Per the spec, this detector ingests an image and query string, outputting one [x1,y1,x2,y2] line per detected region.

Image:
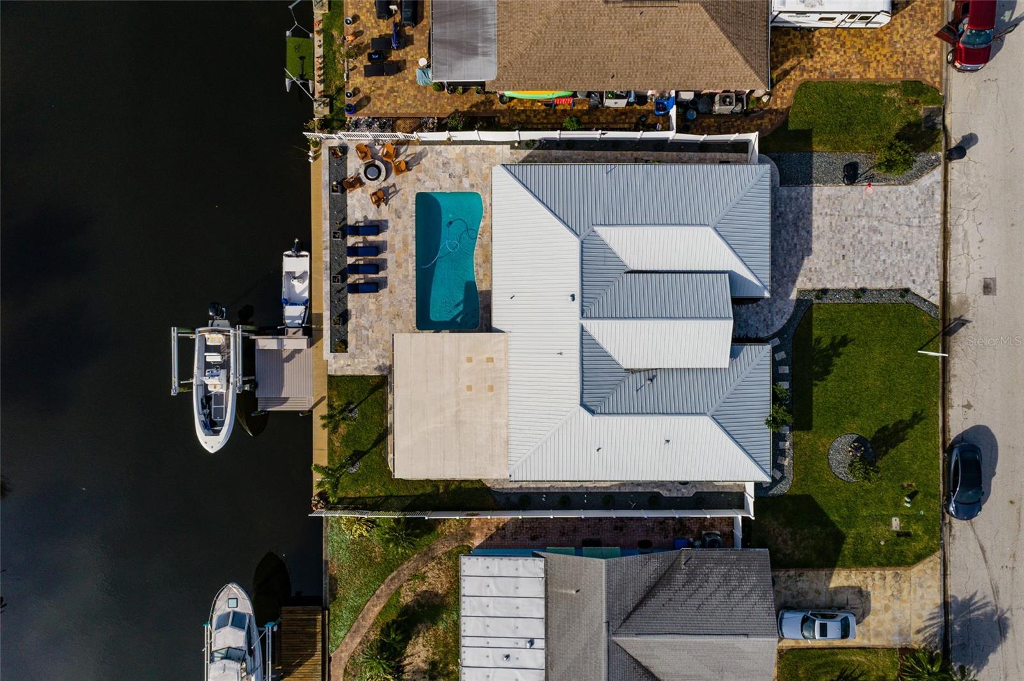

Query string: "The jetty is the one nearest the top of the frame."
[249,327,312,417]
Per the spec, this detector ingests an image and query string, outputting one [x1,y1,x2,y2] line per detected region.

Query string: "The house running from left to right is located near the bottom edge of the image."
[459,543,778,681]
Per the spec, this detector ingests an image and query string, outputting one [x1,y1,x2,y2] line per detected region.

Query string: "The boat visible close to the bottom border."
[209,584,259,681]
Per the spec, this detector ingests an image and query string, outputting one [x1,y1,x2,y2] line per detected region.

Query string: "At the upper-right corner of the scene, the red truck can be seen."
[936,0,1013,74]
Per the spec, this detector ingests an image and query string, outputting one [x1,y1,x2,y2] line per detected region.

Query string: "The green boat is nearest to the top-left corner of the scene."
[285,31,314,92]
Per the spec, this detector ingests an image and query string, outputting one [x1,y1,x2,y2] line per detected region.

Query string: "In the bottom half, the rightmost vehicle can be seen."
[949,442,990,520]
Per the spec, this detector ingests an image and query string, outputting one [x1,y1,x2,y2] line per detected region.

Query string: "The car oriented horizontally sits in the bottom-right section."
[776,605,856,643]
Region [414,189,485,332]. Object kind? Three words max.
swimming pool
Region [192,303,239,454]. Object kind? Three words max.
boat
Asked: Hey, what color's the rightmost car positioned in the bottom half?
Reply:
black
